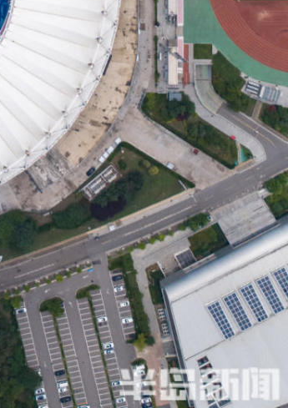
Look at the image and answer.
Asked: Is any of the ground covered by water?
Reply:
No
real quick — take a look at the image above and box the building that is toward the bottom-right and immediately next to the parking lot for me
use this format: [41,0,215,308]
[155,211,288,408]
